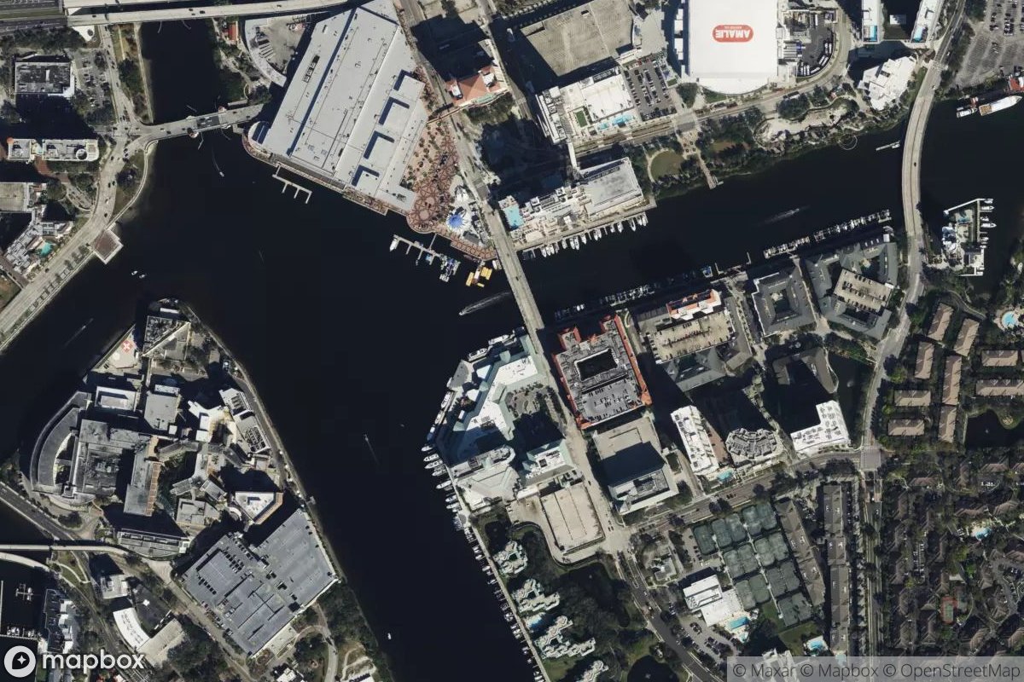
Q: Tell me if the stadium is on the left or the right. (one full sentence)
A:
You can find the stadium on the right side of the picture.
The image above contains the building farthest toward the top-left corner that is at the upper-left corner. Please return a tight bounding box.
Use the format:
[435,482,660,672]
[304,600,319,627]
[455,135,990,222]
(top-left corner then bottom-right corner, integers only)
[15,62,75,98]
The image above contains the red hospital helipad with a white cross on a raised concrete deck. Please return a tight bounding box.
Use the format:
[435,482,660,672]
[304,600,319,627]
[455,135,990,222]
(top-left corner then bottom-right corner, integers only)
[105,329,141,369]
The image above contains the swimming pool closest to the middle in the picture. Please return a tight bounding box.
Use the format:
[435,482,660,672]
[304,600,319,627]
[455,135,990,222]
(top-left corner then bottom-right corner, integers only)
[504,205,523,229]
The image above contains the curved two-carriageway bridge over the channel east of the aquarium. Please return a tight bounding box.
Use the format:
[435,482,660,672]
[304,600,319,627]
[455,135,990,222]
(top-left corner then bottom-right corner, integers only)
[901,99,930,236]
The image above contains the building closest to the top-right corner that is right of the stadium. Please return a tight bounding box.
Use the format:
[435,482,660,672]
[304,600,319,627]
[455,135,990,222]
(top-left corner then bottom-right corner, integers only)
[910,0,949,47]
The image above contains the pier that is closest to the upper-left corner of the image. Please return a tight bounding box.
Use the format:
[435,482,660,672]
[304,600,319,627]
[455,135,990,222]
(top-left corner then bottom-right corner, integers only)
[92,229,123,264]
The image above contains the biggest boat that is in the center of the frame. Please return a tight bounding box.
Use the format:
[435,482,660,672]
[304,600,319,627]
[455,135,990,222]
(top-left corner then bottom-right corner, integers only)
[458,294,511,315]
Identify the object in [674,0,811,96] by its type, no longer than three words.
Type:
stadium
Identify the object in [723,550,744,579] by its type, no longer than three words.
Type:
tennis court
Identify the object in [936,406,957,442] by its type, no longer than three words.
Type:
building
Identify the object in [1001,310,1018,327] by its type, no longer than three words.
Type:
swimming pool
